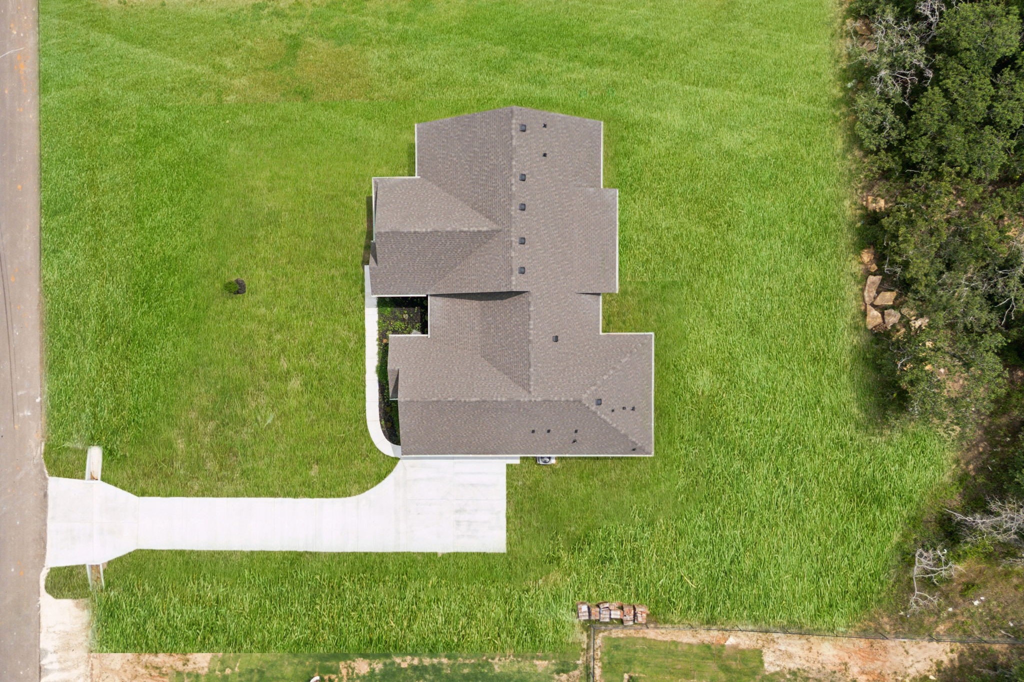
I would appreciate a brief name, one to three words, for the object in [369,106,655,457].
house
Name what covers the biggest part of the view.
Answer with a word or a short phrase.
grass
